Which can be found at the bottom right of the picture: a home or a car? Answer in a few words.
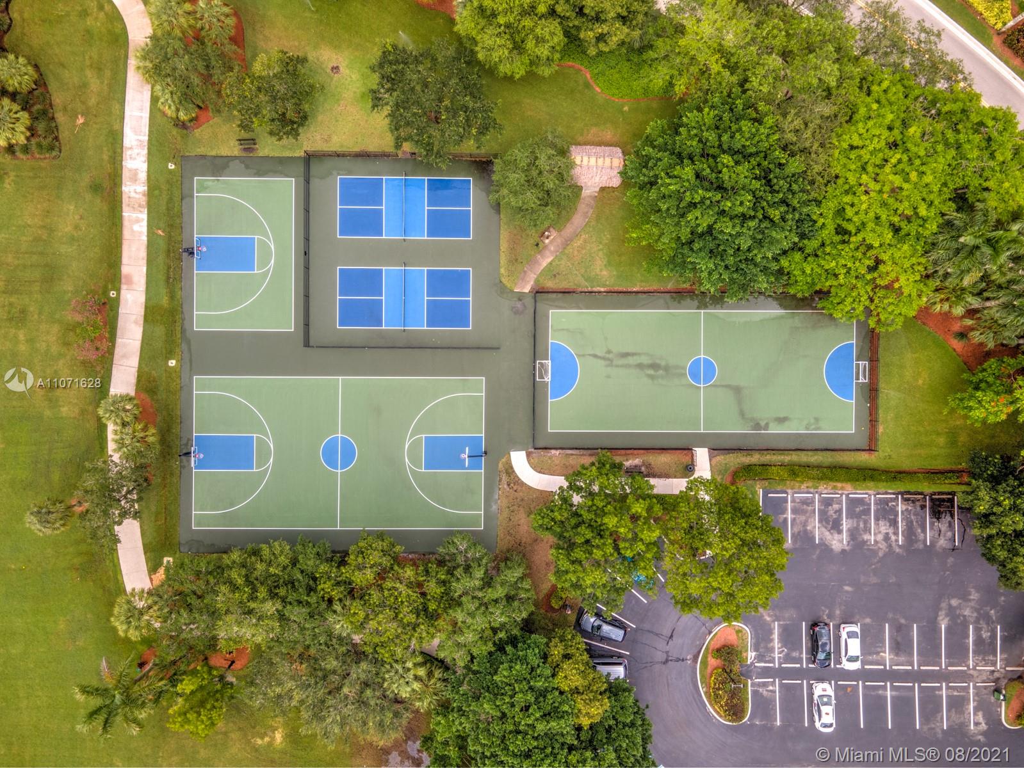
car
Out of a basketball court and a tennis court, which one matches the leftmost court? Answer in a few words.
basketball court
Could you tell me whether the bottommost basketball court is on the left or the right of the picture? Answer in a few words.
left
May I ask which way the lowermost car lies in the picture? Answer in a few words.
vertically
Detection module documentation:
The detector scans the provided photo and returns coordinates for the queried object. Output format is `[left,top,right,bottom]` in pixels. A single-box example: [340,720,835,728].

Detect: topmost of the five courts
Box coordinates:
[337,177,472,239]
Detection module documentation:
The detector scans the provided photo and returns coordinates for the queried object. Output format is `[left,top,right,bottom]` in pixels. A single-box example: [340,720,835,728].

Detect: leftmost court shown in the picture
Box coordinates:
[194,178,294,331]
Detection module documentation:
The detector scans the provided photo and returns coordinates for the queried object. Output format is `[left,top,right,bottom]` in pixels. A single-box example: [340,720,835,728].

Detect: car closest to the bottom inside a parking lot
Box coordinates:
[812,681,838,732]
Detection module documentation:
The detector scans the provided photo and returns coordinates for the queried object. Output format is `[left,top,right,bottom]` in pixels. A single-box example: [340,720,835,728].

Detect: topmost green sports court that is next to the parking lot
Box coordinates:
[548,310,856,433]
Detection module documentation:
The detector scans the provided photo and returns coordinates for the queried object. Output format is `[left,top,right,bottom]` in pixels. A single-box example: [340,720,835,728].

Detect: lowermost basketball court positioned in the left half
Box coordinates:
[193,377,485,530]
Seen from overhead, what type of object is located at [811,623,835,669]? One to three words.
car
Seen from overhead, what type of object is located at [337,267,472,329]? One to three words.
sports court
